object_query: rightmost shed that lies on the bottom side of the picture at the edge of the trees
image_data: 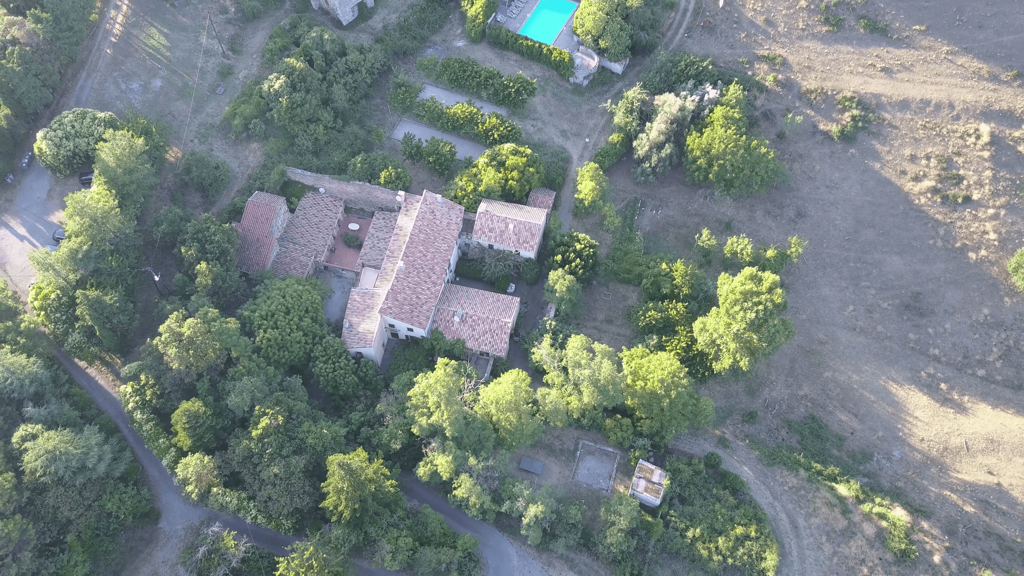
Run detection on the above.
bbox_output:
[630,461,667,504]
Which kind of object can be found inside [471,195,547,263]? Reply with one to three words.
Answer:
house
